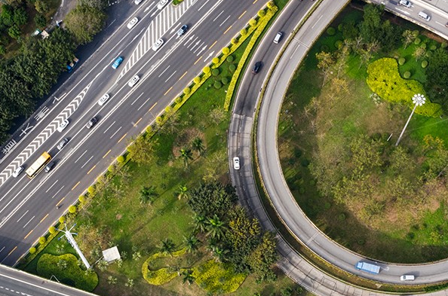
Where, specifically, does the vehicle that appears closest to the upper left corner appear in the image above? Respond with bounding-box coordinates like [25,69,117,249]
[63,56,79,72]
